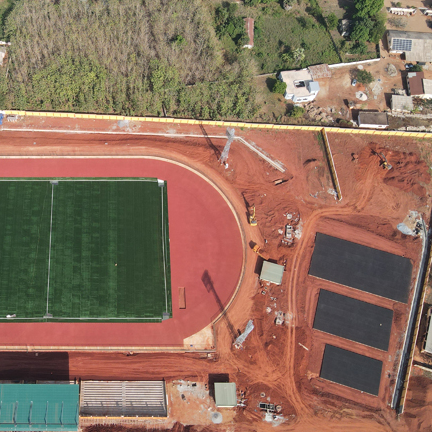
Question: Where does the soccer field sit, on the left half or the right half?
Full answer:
You can find the soccer field on the left side of the picture.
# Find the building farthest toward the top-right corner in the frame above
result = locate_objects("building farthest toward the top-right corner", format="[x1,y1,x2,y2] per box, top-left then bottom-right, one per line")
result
[386,30,432,67]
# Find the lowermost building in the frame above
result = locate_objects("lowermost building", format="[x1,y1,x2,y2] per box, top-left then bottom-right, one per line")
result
[213,382,237,406]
